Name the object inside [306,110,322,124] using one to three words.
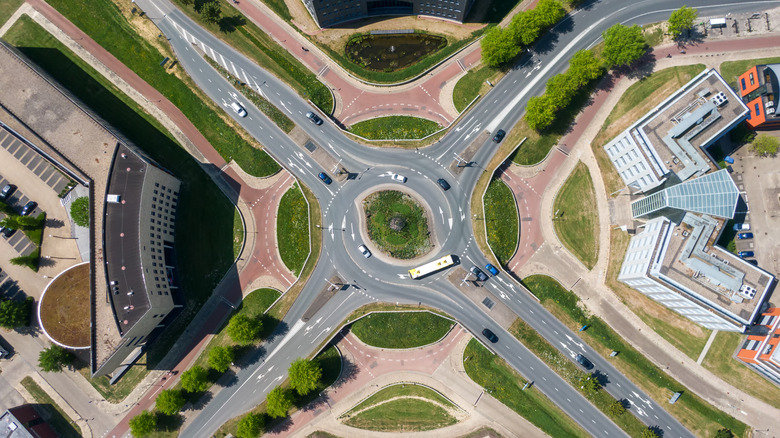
vehicle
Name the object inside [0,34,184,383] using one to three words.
building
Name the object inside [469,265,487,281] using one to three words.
car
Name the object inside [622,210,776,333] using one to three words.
building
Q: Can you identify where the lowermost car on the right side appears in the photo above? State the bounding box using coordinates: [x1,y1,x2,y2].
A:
[575,353,595,370]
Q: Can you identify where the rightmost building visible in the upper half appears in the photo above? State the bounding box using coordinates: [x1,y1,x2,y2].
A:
[739,60,780,129]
